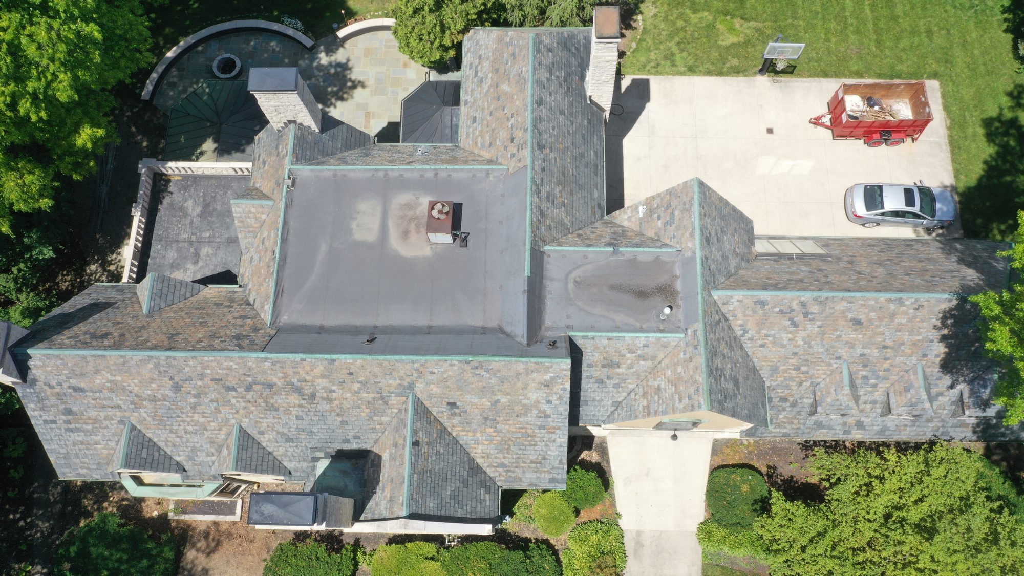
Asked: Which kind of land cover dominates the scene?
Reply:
buildings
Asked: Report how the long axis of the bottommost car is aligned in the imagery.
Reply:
from left to right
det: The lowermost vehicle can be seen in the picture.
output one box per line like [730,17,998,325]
[843,180,959,233]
